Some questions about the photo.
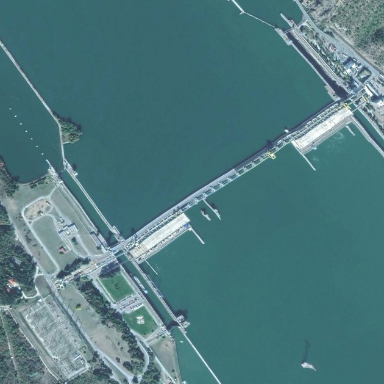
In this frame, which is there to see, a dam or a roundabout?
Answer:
dam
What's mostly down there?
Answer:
water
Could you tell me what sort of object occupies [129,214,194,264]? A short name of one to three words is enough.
building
